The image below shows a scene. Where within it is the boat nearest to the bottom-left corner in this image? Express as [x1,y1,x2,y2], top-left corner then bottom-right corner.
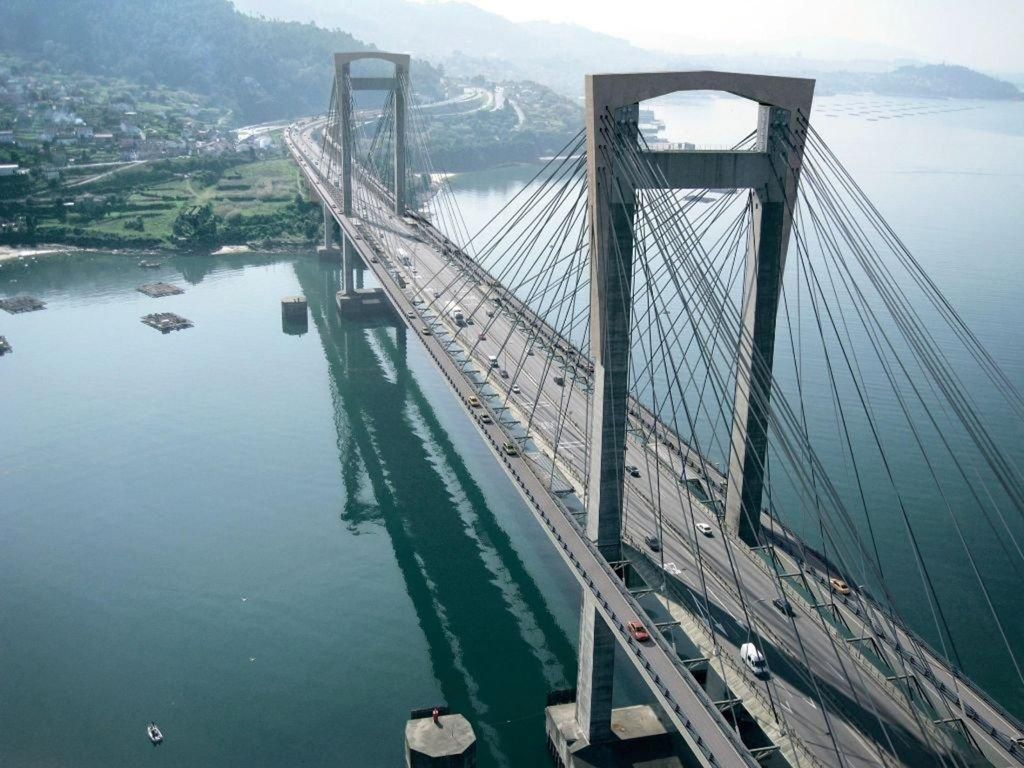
[146,720,161,741]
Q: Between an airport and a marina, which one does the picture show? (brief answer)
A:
marina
